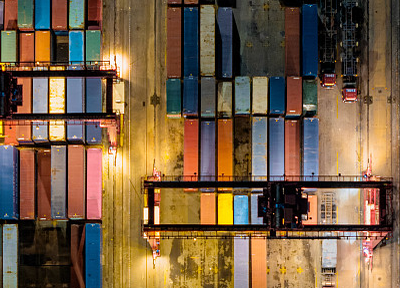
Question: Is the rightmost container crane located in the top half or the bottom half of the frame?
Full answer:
The rightmost container crane is in the bottom half of the image.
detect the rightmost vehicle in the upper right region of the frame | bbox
[340,6,357,104]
